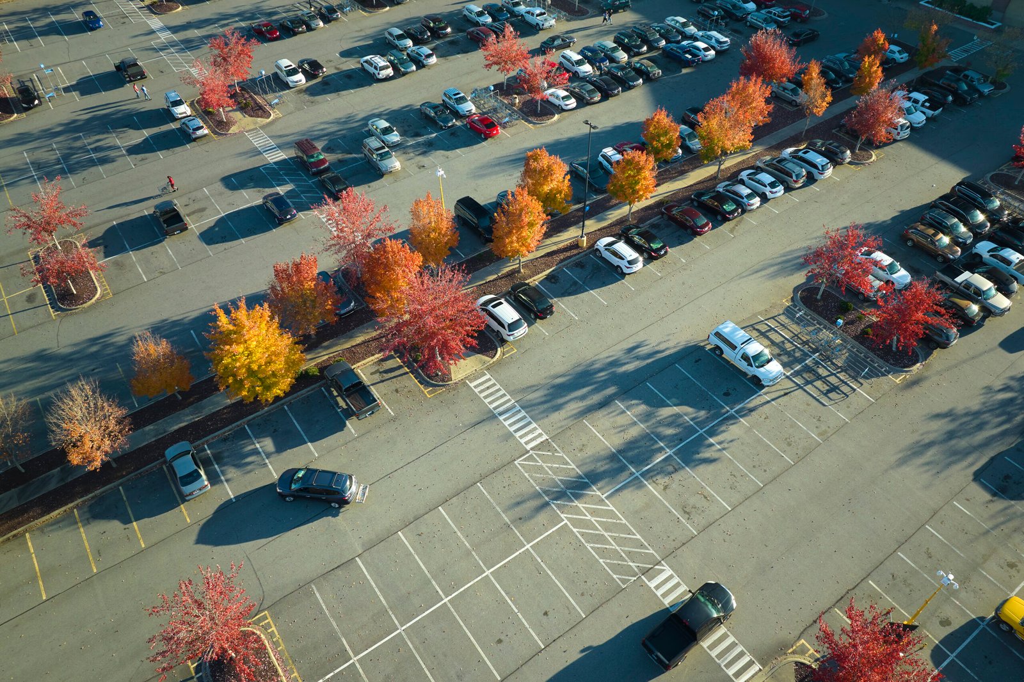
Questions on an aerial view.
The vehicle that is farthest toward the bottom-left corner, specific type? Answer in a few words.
automobile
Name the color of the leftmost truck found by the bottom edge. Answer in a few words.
black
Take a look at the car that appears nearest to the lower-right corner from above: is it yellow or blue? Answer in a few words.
yellow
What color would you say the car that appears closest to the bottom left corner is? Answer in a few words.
blue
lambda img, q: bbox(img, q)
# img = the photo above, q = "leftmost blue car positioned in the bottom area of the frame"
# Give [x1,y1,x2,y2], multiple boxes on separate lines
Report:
[166,441,216,509]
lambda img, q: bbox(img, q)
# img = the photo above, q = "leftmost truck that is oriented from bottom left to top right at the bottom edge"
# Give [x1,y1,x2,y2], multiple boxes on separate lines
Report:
[639,576,742,674]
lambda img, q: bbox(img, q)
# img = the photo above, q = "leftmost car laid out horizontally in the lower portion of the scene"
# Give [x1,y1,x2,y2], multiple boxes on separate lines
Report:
[271,463,360,512]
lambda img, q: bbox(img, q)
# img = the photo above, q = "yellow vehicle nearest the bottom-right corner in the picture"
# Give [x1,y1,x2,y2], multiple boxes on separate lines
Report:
[997,594,1024,641]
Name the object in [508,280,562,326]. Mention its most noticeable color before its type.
black car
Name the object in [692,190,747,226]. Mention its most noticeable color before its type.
black car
